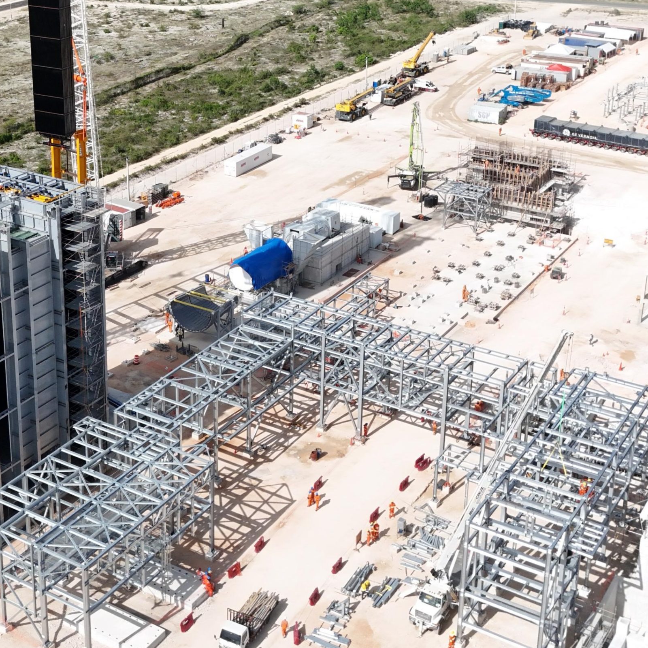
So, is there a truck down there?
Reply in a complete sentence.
Yes, the image includes a truck.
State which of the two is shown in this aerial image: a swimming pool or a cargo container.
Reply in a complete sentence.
It is a cargo container that can be seen here.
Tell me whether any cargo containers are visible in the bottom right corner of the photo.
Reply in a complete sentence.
No, no cargo container is visible in the bottom right corner of the photo.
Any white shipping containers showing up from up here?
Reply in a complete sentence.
Yes, the frame does contain a white shipping container.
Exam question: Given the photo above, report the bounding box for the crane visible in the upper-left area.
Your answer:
[73,0,152,293]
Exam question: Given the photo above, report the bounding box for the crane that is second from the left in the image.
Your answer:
[337,77,370,117]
